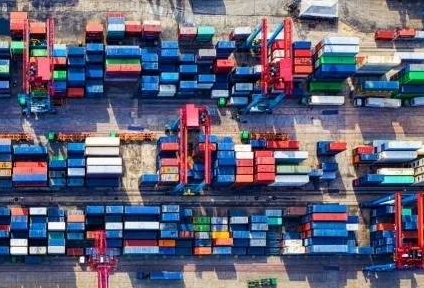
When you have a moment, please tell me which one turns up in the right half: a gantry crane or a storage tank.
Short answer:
gantry crane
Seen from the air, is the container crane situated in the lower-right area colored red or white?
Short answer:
red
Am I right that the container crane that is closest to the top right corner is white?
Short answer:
No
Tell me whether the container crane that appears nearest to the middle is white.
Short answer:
No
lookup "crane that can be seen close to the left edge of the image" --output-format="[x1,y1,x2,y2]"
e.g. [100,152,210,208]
[19,18,58,112]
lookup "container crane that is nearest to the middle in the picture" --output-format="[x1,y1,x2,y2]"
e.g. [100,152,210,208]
[164,103,212,195]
